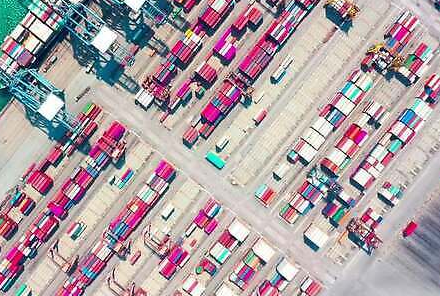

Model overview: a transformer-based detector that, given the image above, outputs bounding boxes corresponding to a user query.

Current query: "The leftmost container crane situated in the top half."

[0,58,76,128]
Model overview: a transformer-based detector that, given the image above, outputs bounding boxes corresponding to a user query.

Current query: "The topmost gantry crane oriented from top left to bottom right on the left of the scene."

[47,0,130,62]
